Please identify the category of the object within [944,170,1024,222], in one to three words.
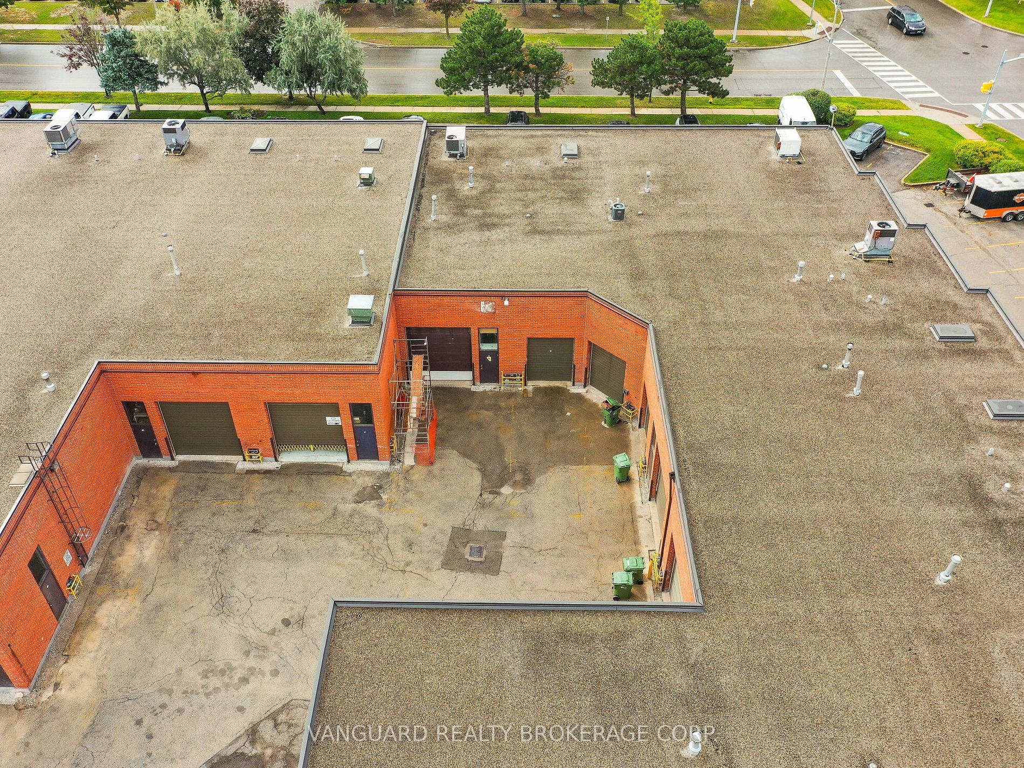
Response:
trailer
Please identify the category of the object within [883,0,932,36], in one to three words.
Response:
car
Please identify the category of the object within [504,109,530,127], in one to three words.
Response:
car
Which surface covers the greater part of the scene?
buildings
